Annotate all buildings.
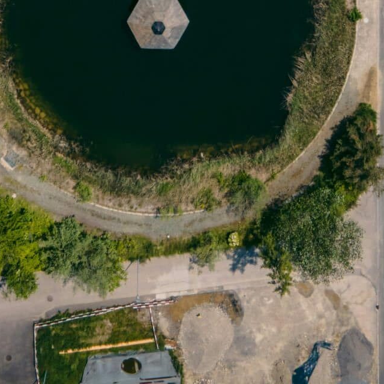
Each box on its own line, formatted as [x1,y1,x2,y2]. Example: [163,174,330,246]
[82,340,190,384]
[127,0,190,49]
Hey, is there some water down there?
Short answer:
Yes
